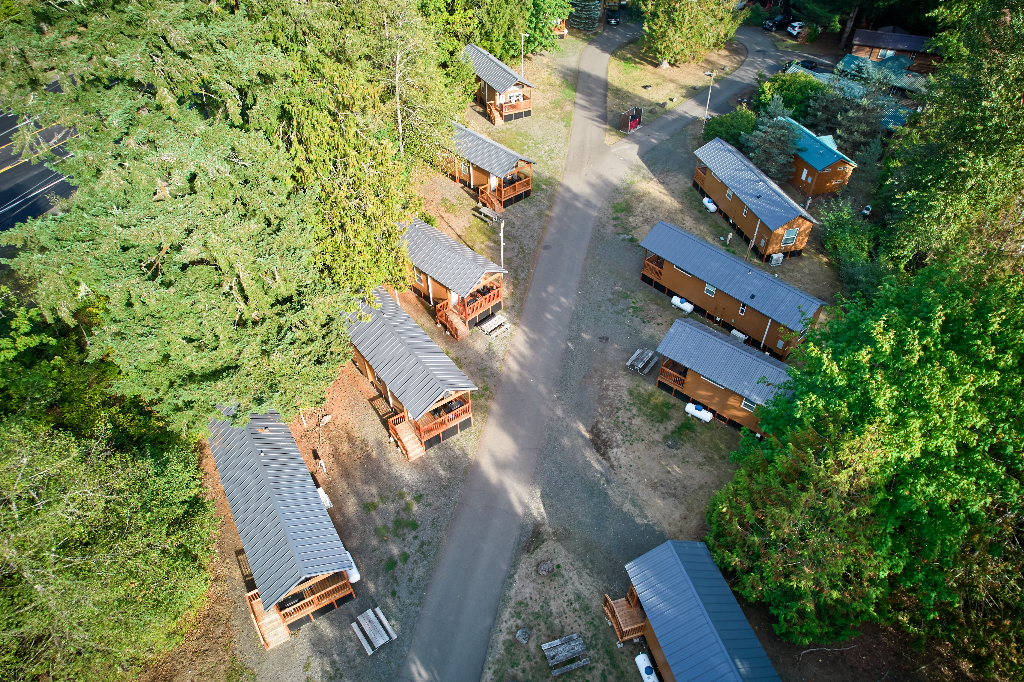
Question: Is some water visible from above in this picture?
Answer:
No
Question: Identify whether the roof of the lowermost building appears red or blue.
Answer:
blue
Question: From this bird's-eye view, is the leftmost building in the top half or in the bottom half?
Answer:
bottom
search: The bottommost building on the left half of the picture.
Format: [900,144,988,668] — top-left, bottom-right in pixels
[202,392,355,654]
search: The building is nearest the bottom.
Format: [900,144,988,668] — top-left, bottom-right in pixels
[601,540,782,682]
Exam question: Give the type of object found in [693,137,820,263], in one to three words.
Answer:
building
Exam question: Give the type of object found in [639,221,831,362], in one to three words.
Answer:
building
